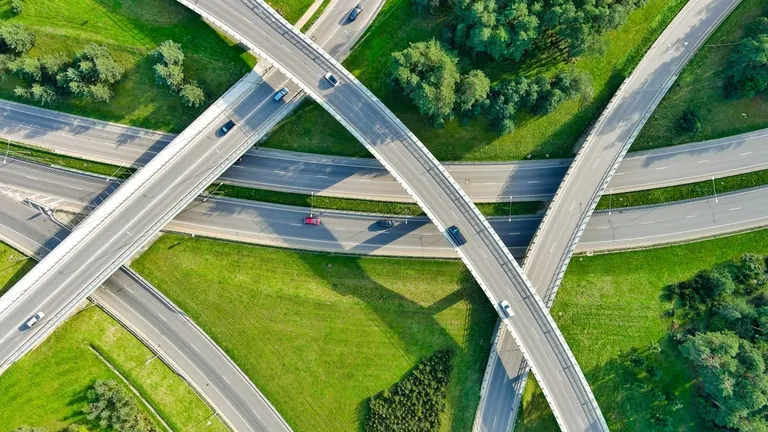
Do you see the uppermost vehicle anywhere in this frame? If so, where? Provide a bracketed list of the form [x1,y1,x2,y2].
[348,4,362,20]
